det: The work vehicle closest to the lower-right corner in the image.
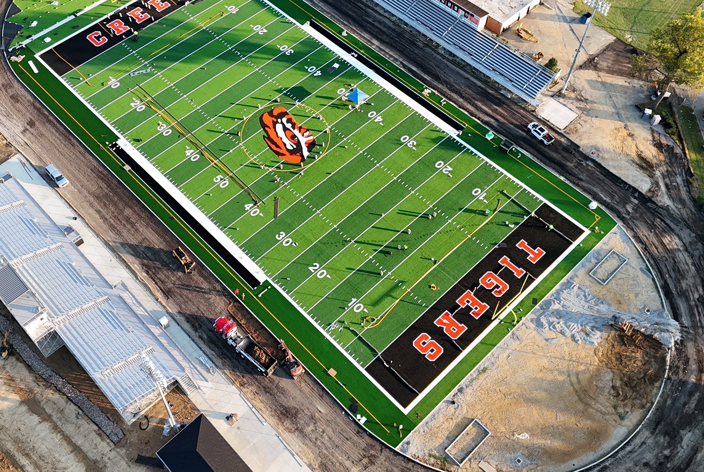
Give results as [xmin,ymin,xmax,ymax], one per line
[610,312,636,335]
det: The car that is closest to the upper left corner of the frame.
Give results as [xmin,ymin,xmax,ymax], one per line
[45,165,67,188]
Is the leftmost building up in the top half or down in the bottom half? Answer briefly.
bottom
